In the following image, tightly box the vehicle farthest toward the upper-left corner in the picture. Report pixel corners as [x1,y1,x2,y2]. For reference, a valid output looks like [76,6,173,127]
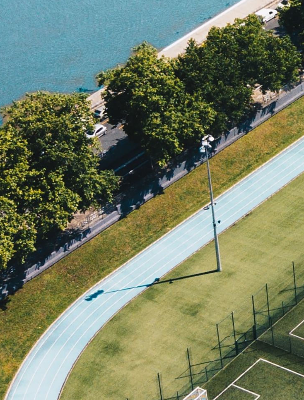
[85,102,111,121]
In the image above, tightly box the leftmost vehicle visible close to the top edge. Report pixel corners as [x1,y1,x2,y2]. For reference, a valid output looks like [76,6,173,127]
[250,6,275,23]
